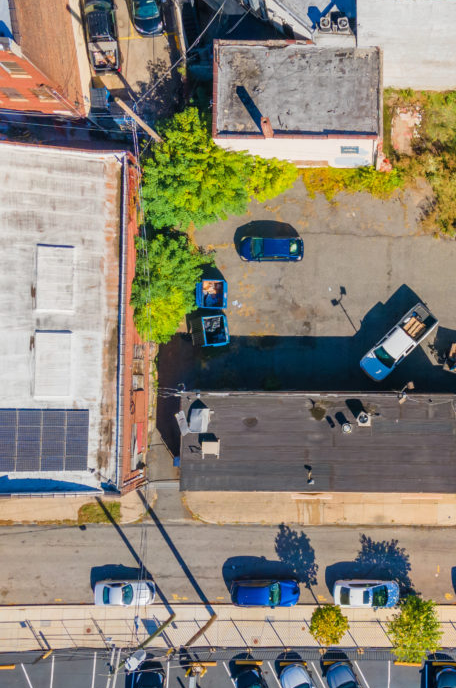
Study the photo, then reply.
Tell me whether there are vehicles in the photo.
Yes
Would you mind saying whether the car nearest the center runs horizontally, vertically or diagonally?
horizontally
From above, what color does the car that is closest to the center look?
blue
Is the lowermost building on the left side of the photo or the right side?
right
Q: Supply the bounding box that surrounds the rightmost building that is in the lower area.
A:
[178,391,456,503]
